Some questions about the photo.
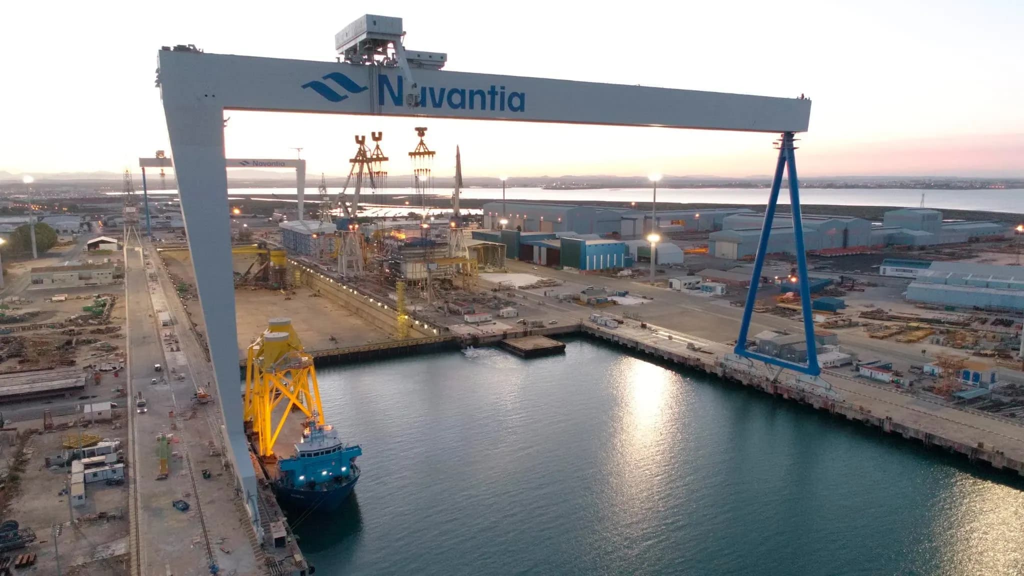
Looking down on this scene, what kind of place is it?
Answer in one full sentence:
What you see here is a port.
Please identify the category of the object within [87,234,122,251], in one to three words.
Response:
barn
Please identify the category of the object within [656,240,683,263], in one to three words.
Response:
hangar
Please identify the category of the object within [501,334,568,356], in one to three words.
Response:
pier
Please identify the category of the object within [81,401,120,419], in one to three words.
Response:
shed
